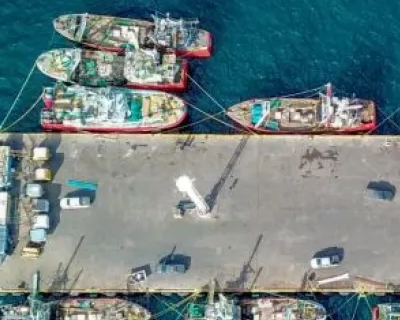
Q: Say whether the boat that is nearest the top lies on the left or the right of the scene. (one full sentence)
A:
The boat that is nearest the top sits on the left side.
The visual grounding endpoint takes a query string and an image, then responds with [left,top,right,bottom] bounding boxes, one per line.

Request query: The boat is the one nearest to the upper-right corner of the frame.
[227,83,375,134]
